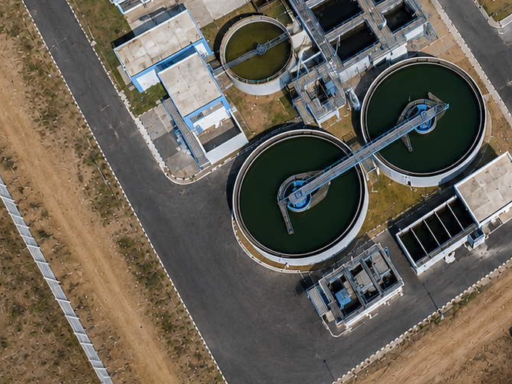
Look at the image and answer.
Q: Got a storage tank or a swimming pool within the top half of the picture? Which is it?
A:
storage tank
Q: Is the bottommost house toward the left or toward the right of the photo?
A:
right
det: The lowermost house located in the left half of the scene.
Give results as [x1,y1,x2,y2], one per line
[158,50,233,129]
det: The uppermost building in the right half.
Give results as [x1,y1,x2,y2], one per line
[285,57,352,128]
